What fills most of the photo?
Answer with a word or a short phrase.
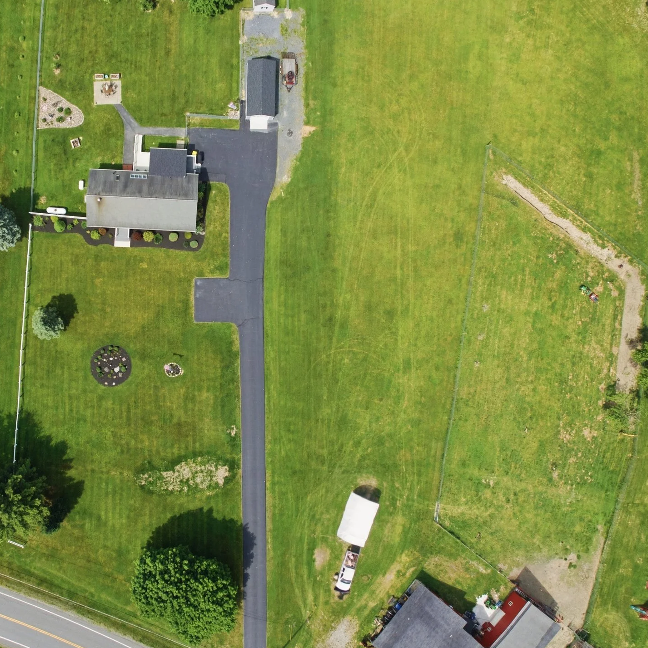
grass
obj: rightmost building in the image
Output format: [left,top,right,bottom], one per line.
[480,591,561,648]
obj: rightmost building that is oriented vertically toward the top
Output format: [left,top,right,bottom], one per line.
[246,58,276,130]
